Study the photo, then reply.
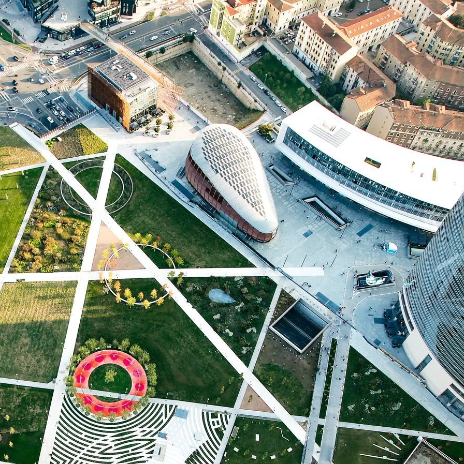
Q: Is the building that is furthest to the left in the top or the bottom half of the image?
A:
top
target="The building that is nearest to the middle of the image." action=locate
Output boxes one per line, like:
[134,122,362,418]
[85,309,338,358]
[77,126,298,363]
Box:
[187,123,279,242]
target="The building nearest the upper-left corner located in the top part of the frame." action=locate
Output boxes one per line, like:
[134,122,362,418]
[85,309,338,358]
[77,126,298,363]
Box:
[27,0,60,29]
